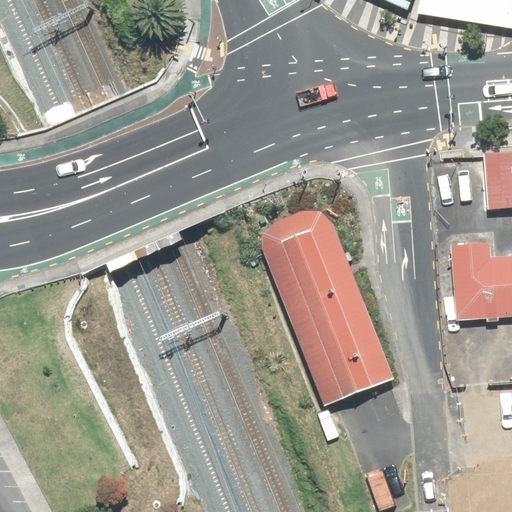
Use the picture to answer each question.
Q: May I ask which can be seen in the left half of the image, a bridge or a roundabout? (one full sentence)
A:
There is a bridge in the left half of the image.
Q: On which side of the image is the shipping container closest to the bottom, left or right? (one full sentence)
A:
The shipping container closest to the bottom is on the right side of the image.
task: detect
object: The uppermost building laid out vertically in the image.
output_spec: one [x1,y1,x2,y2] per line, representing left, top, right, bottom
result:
[484,150,512,210]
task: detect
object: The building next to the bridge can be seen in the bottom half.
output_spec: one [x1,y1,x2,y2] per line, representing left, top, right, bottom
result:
[262,211,394,406]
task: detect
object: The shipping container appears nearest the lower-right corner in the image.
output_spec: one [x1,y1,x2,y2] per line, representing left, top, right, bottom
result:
[367,468,398,512]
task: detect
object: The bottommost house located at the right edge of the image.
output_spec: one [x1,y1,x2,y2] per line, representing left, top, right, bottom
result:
[450,242,512,320]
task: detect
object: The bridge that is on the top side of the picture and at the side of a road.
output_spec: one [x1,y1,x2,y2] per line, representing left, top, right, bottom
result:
[16,66,214,276]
